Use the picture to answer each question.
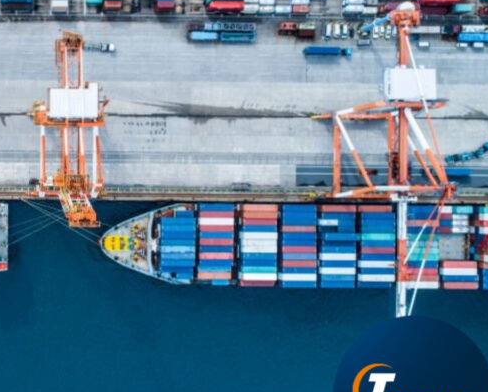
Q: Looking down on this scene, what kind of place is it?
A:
port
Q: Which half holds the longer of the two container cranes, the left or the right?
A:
right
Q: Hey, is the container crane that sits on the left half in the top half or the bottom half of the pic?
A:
top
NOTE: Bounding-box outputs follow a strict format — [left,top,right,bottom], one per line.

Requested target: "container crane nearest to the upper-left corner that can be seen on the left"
[25,29,113,226]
